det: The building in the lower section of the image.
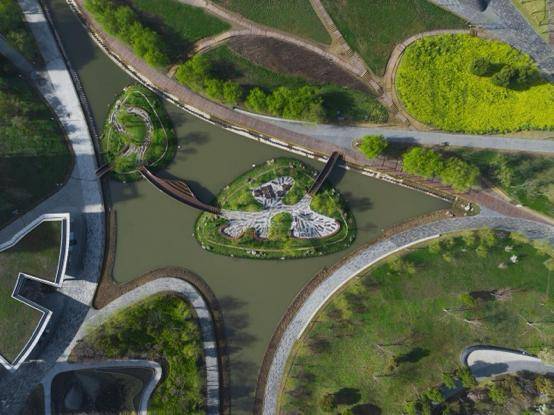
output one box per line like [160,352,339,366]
[0,213,77,370]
